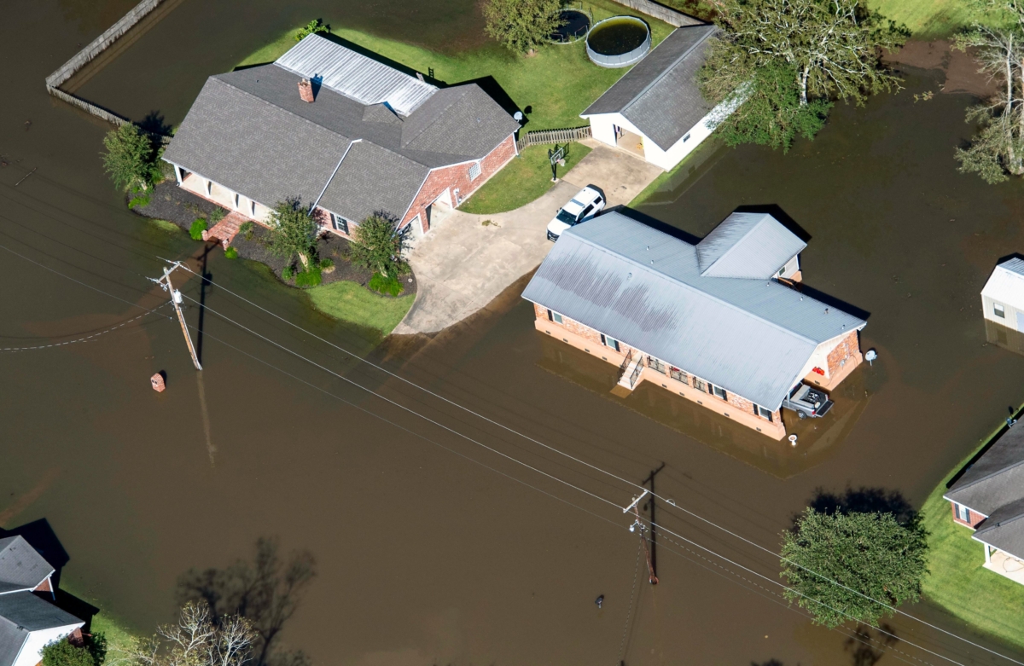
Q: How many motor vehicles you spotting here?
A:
two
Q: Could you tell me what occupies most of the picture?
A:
water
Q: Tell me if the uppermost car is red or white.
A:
white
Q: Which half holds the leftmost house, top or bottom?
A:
bottom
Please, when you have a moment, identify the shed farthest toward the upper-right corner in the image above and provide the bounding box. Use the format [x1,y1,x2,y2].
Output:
[981,258,1024,335]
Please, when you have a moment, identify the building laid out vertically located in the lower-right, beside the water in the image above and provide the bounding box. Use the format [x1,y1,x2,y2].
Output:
[943,415,1024,587]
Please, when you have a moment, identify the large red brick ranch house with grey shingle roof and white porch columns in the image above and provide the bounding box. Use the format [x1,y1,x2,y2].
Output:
[160,34,523,262]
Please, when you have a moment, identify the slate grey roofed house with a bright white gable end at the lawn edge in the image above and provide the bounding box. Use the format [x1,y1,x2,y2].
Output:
[0,534,92,666]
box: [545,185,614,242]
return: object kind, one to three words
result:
car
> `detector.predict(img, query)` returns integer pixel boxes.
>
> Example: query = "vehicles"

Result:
[545,185,614,242]
[783,382,834,420]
